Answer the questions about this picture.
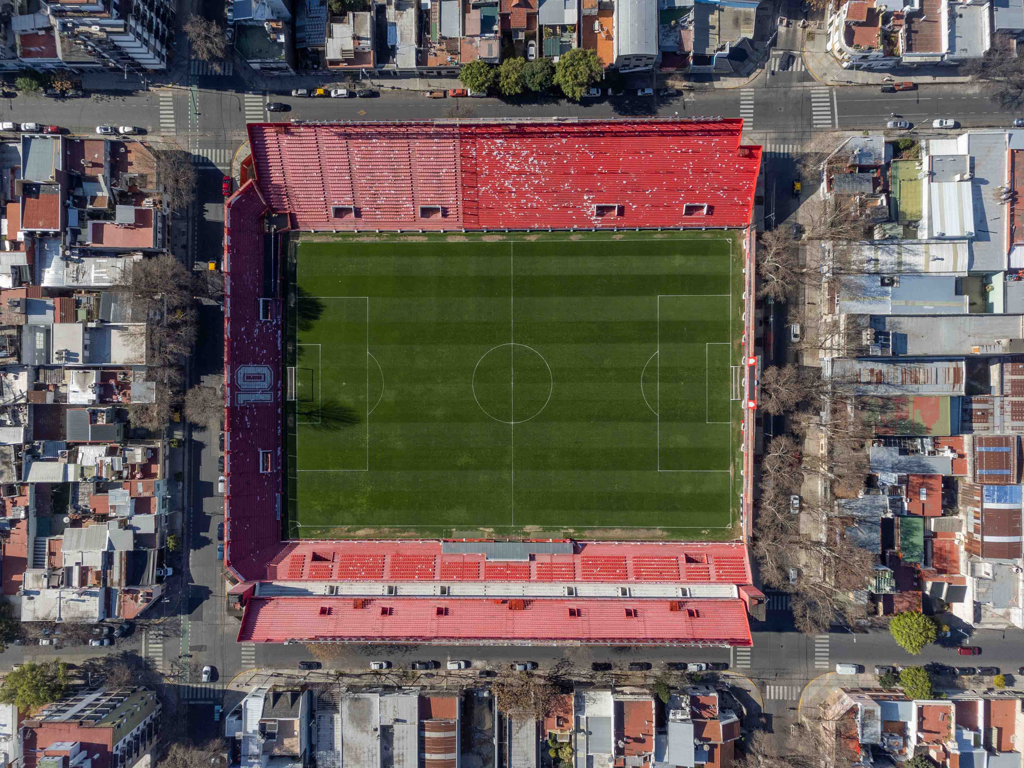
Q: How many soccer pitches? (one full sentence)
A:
My tally gives 1 soccer pitch in this photo.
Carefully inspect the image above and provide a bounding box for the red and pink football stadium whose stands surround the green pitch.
[222,117,766,645]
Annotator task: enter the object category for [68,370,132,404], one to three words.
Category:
house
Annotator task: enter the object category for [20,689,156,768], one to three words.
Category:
building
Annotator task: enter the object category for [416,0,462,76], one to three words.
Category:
house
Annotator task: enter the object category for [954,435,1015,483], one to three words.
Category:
building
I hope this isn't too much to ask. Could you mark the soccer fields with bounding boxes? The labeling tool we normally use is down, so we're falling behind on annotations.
[281,232,746,542]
